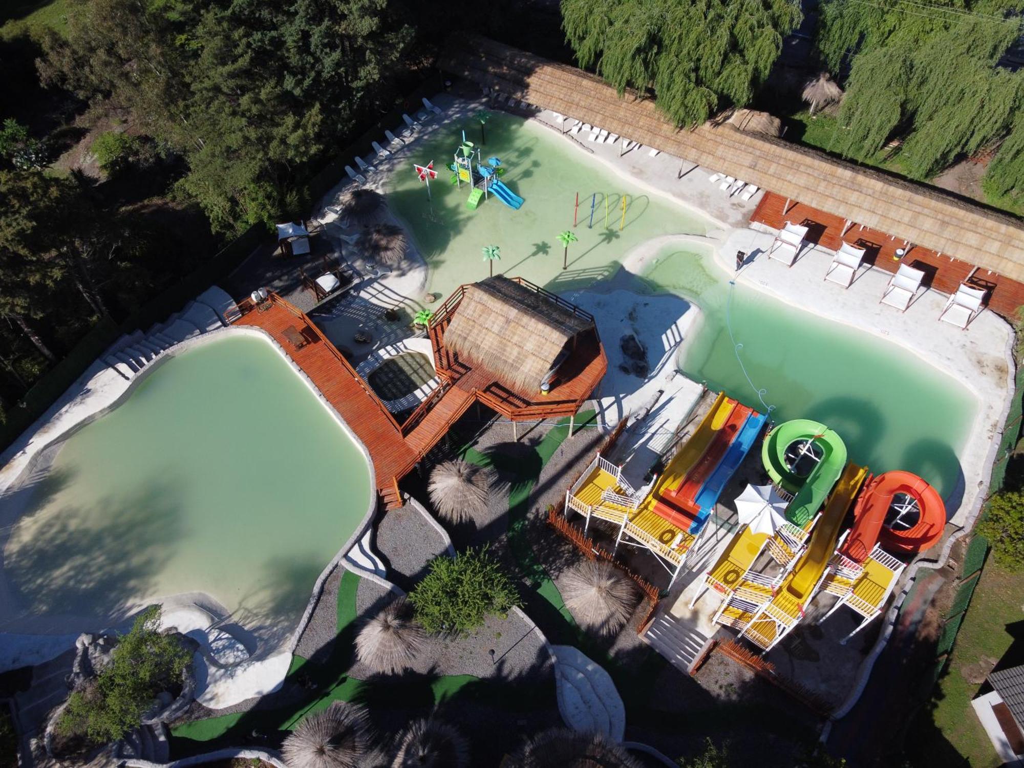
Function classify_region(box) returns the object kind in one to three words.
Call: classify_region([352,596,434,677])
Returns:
umbrella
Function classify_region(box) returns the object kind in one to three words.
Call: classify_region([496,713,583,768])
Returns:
umbrella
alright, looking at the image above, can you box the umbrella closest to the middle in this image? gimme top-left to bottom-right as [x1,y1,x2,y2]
[425,457,500,520]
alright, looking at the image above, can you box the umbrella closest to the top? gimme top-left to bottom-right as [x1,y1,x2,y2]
[789,74,843,119]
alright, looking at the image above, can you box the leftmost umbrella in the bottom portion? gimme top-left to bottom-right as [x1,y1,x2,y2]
[282,701,381,768]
